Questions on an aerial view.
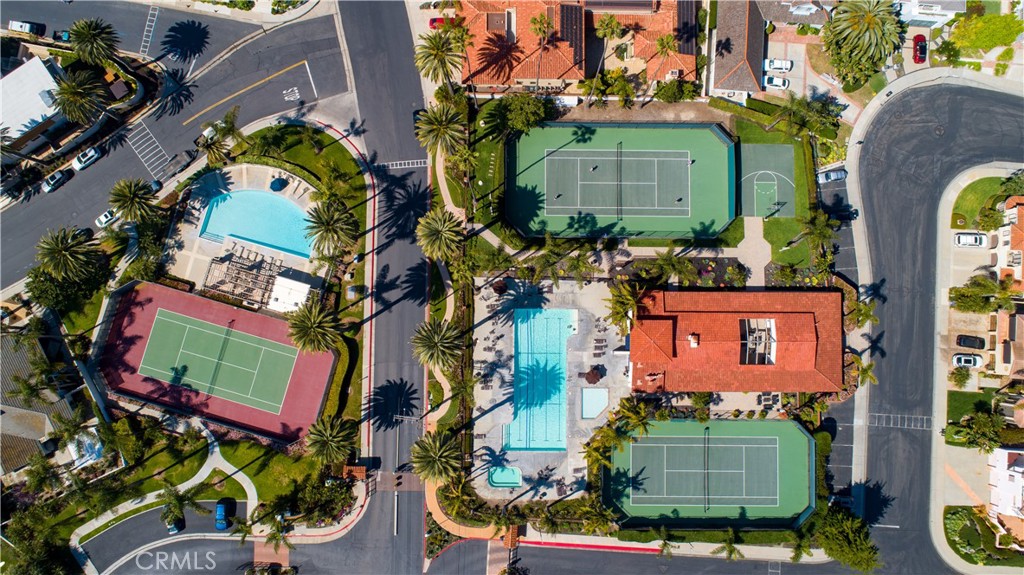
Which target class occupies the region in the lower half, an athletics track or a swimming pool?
swimming pool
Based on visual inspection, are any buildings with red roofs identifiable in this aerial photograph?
Yes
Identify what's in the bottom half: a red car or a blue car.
blue car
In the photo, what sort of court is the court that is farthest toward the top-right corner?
basketball court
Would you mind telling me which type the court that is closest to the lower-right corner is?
tennis court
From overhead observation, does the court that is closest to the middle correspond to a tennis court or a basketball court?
tennis court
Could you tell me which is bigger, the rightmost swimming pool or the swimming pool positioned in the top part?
the swimming pool positioned in the top part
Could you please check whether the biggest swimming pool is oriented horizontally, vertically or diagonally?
vertically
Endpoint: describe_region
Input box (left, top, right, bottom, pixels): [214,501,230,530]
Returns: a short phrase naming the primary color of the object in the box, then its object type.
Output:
blue car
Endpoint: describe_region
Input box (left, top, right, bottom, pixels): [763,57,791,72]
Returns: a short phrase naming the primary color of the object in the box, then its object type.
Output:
white car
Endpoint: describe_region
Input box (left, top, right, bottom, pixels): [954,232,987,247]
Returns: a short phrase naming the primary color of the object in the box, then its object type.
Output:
white car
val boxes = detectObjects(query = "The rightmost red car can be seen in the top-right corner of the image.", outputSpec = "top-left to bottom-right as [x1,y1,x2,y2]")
[912,34,929,64]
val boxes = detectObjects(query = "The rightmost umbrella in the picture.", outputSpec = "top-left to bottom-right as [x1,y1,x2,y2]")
[585,369,600,384]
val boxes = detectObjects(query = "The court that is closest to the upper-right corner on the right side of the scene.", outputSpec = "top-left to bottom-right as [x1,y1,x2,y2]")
[741,143,795,217]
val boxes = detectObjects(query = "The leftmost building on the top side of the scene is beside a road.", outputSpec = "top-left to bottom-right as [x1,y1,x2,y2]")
[0,43,84,171]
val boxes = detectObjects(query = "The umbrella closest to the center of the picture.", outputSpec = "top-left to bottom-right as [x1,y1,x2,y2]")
[494,282,507,295]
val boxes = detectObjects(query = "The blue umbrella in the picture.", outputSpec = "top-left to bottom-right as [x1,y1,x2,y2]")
[270,175,288,192]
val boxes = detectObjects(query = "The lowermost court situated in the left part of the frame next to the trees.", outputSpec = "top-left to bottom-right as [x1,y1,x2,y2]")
[102,284,336,440]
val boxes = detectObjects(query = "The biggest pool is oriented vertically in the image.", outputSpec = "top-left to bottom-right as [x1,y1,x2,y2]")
[501,307,580,453]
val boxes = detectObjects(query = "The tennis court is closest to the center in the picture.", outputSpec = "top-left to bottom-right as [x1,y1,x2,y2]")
[506,128,727,236]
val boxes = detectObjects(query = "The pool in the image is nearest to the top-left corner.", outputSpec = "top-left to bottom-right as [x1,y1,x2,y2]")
[197,189,314,260]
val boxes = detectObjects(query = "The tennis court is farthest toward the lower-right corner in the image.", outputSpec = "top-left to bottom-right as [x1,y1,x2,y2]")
[603,418,809,523]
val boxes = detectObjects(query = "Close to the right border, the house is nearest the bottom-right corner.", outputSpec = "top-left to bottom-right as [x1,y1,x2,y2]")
[987,445,1024,515]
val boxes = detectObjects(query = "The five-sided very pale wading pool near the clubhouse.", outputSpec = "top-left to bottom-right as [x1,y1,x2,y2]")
[580,386,611,421]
